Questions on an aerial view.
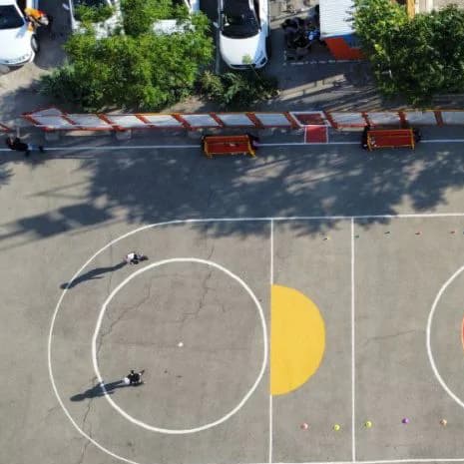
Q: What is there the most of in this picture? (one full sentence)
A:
The largest share of the image is taken up by paved ground.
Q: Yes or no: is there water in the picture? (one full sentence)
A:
No, no water is visible.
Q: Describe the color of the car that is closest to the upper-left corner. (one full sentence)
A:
From above, the car that is closest to the upper-left corner appears white.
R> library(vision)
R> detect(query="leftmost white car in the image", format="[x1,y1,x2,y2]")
[0,0,42,69]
